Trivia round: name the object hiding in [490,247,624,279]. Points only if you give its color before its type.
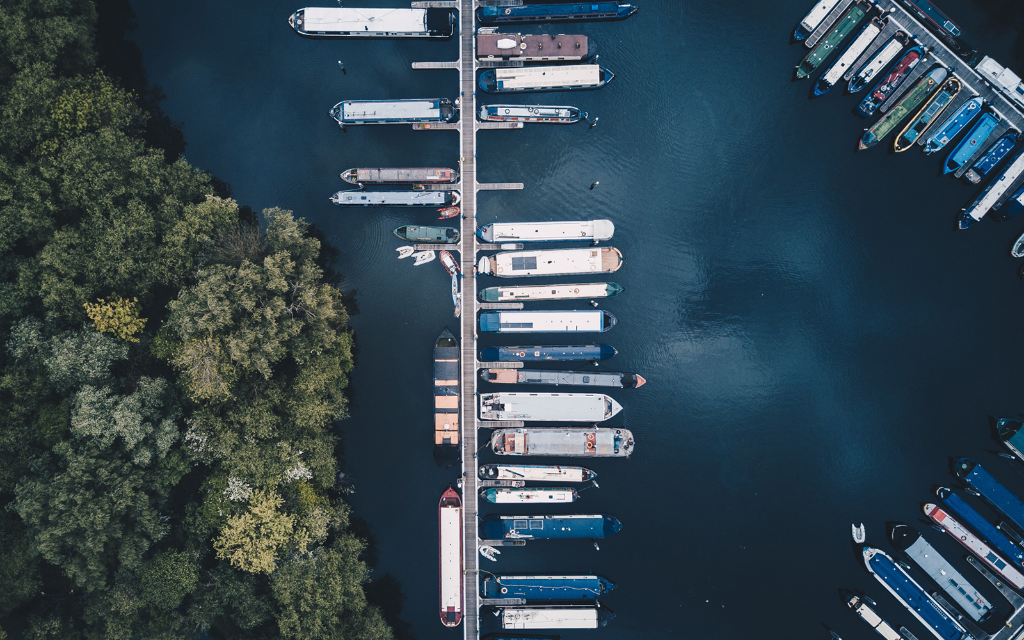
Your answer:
white boat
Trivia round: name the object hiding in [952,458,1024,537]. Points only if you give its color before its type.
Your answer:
blue boat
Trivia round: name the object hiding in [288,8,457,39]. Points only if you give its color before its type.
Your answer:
white boat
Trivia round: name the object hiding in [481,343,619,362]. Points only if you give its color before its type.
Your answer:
blue boat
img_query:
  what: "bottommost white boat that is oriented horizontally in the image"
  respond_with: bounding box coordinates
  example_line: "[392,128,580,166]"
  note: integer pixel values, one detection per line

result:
[481,601,616,629]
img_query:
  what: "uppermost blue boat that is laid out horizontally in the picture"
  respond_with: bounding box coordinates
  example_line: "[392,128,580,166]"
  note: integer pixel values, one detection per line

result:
[477,1,639,26]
